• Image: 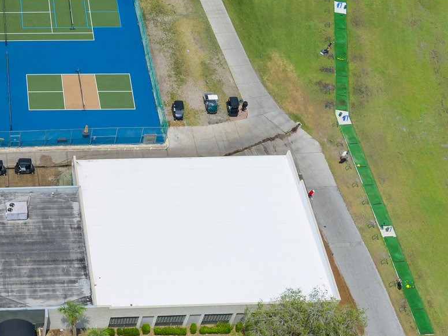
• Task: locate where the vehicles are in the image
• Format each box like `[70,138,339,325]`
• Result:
[203,94,218,114]
[14,157,35,174]
[171,98,185,120]
[225,96,240,117]
[0,159,7,177]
